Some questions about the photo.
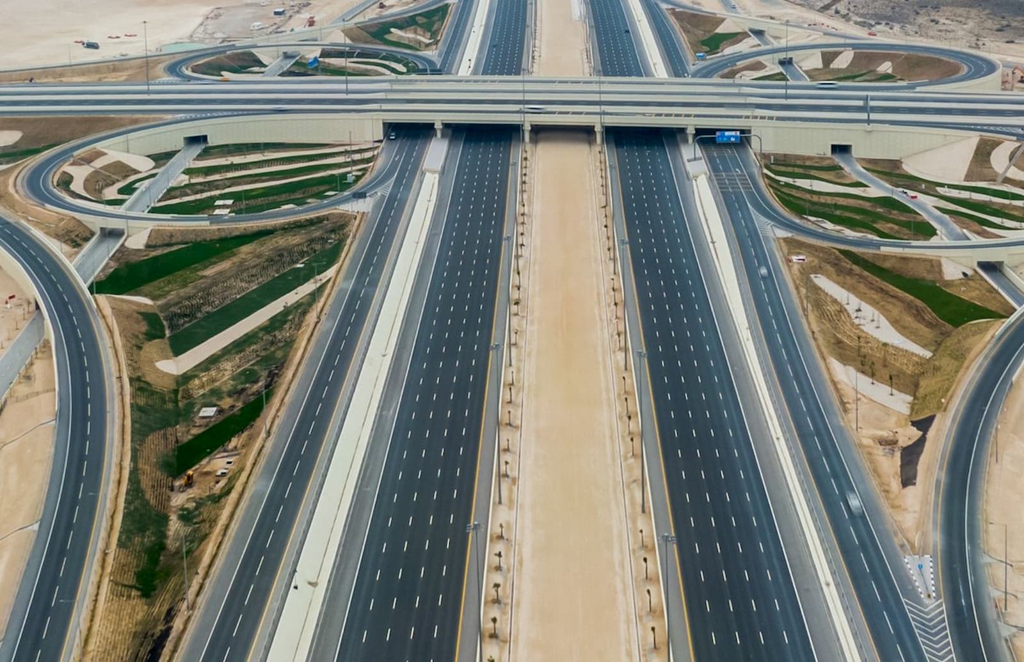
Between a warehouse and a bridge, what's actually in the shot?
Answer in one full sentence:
Looking from above, you can make out a bridge.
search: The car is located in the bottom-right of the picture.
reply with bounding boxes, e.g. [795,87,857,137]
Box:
[848,497,862,510]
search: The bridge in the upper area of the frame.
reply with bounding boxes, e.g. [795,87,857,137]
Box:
[383,75,754,152]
